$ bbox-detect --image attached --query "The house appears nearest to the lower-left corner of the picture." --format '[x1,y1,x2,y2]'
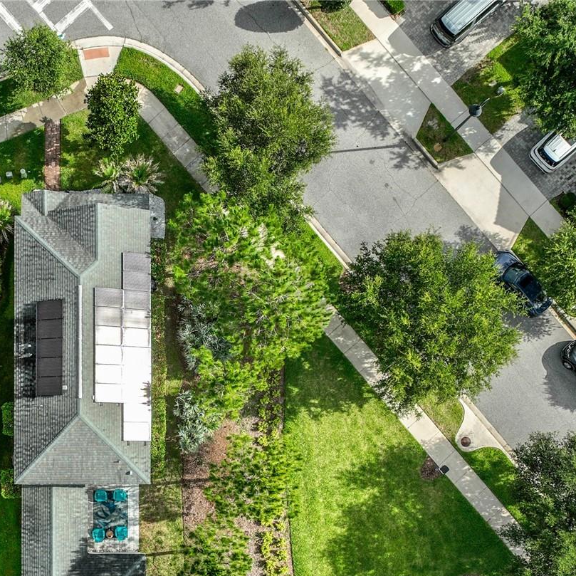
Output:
[13,185,151,576]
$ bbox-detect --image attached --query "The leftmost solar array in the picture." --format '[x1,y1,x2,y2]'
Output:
[36,296,63,398]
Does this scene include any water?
No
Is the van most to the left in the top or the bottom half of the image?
top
